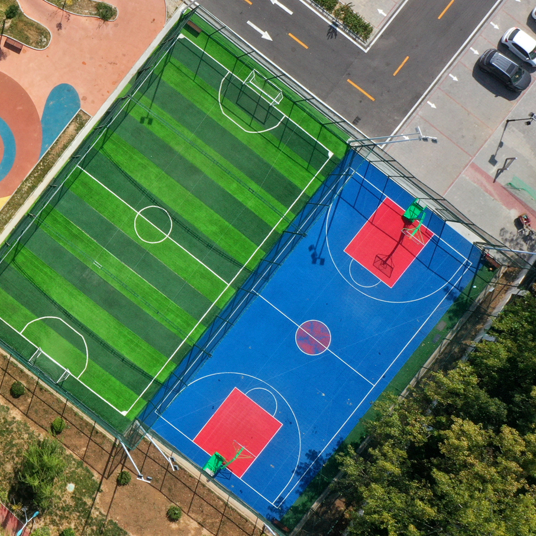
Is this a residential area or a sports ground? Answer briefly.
sports ground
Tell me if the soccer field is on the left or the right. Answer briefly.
left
